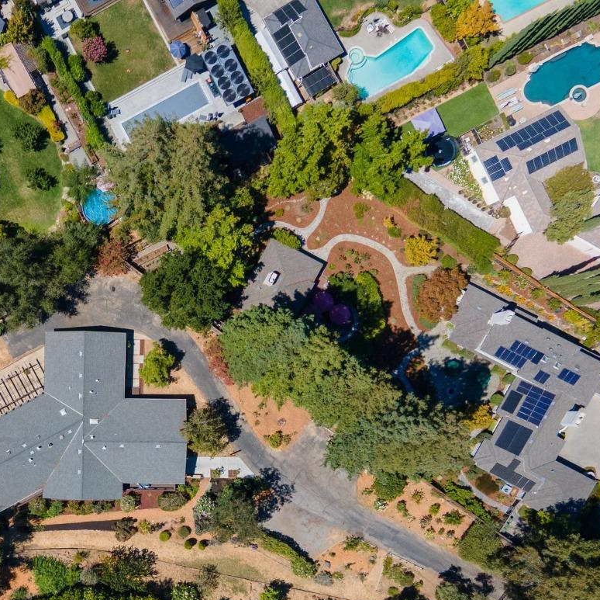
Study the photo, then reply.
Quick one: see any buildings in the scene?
Yes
